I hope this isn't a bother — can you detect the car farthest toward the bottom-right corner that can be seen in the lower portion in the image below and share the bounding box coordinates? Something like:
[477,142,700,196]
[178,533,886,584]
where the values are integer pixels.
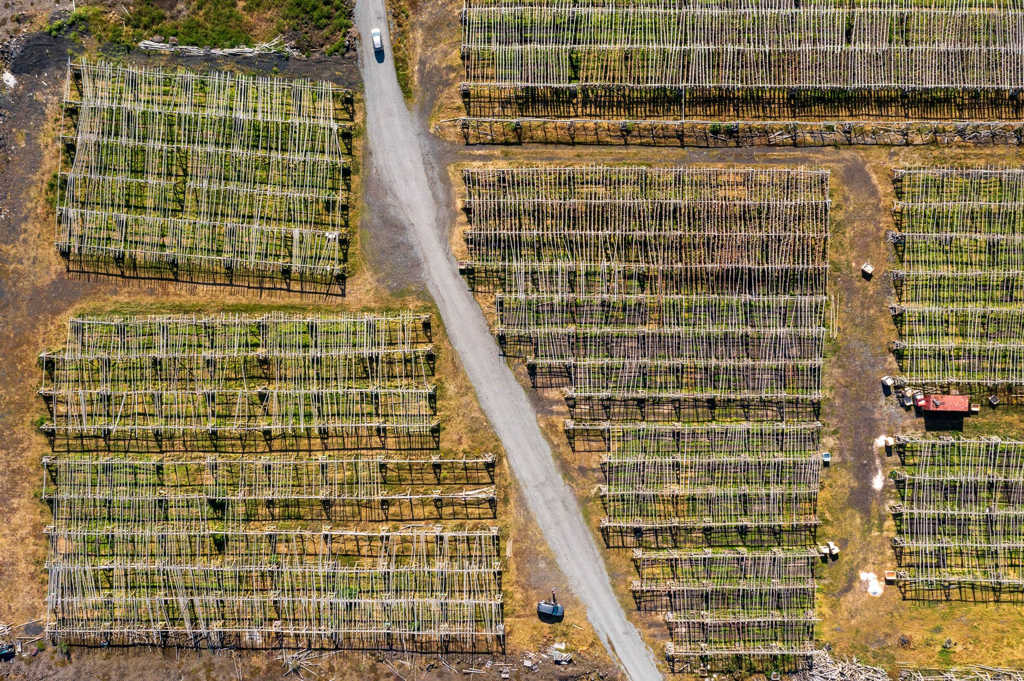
[536,598,564,617]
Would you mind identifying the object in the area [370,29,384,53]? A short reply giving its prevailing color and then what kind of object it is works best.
white car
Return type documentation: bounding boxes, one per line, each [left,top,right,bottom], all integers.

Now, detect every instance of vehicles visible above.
[536,598,564,617]
[370,29,384,53]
